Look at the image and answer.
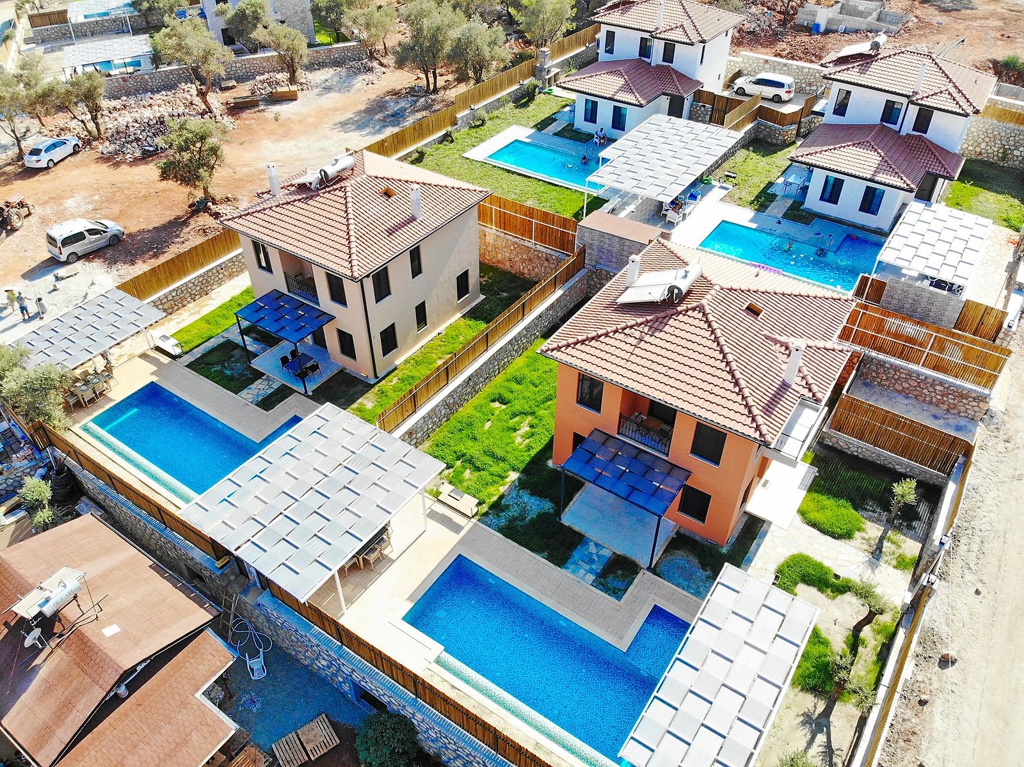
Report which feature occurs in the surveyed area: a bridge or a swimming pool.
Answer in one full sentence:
I can see a swimming pool in this picture.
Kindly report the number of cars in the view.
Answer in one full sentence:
In total, there are 3 cars in the scene.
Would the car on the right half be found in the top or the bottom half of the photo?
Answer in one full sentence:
The car on the right half is in the top half of the image.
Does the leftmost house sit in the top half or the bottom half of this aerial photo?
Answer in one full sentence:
The leftmost house is in the bottom half of the image.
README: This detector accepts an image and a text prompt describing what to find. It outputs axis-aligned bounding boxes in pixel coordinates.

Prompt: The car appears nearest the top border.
[730,70,796,103]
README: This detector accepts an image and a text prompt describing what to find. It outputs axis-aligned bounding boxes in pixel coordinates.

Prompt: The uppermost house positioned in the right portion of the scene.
[553,0,737,139]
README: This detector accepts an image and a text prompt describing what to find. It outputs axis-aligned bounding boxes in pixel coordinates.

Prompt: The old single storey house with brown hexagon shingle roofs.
[0,513,243,767]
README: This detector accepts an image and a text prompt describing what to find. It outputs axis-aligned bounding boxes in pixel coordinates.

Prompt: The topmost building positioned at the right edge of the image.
[781,47,1001,232]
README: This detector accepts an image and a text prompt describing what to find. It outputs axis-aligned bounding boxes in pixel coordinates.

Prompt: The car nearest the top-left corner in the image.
[16,132,86,168]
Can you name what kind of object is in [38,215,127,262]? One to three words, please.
car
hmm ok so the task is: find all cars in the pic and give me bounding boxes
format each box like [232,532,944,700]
[16,132,86,168]
[38,215,127,262]
[730,70,796,103]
